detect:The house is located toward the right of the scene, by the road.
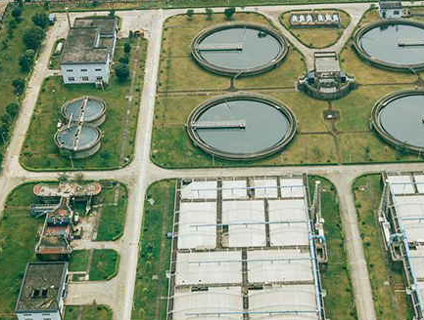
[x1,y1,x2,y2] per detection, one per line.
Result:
[376,0,405,18]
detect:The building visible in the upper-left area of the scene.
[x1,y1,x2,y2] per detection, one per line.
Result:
[55,16,119,83]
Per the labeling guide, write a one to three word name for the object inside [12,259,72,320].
building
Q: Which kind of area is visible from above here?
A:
industrial area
